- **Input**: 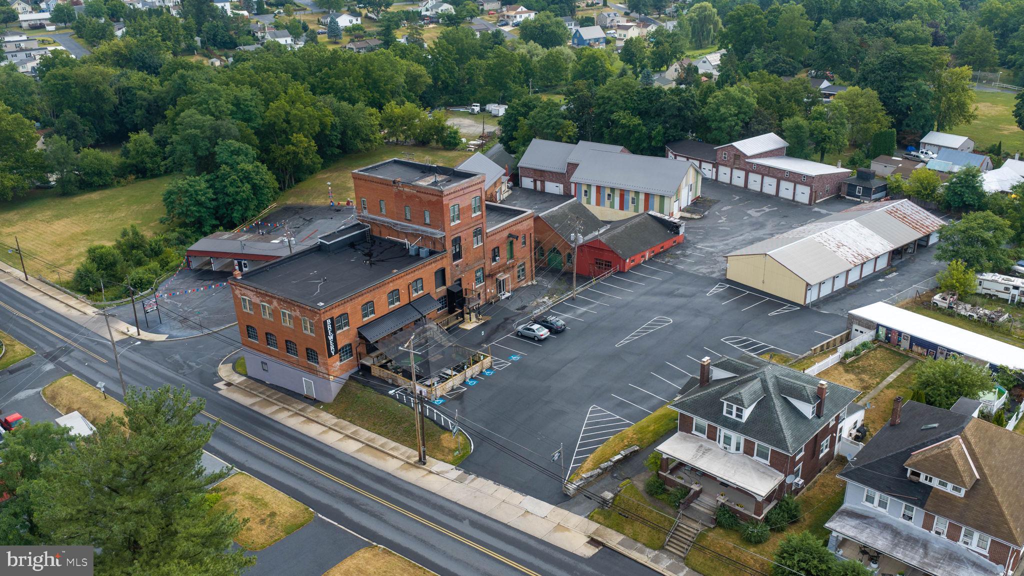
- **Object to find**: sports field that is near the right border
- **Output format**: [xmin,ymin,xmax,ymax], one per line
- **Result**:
[956,91,1024,163]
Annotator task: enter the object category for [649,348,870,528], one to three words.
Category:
house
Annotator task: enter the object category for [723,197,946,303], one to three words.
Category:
building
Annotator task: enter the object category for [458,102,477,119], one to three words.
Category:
vehicle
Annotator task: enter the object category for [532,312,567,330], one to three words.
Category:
car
